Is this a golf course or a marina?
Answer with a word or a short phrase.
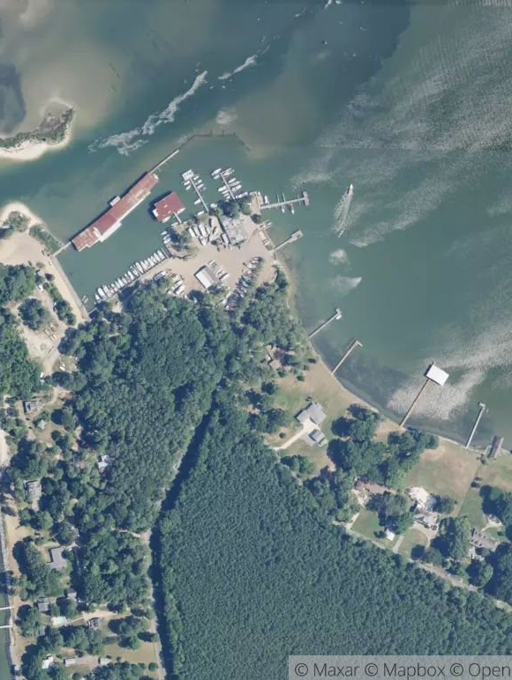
marina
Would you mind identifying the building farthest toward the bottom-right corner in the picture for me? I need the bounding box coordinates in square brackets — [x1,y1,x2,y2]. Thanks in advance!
[470,526,501,552]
